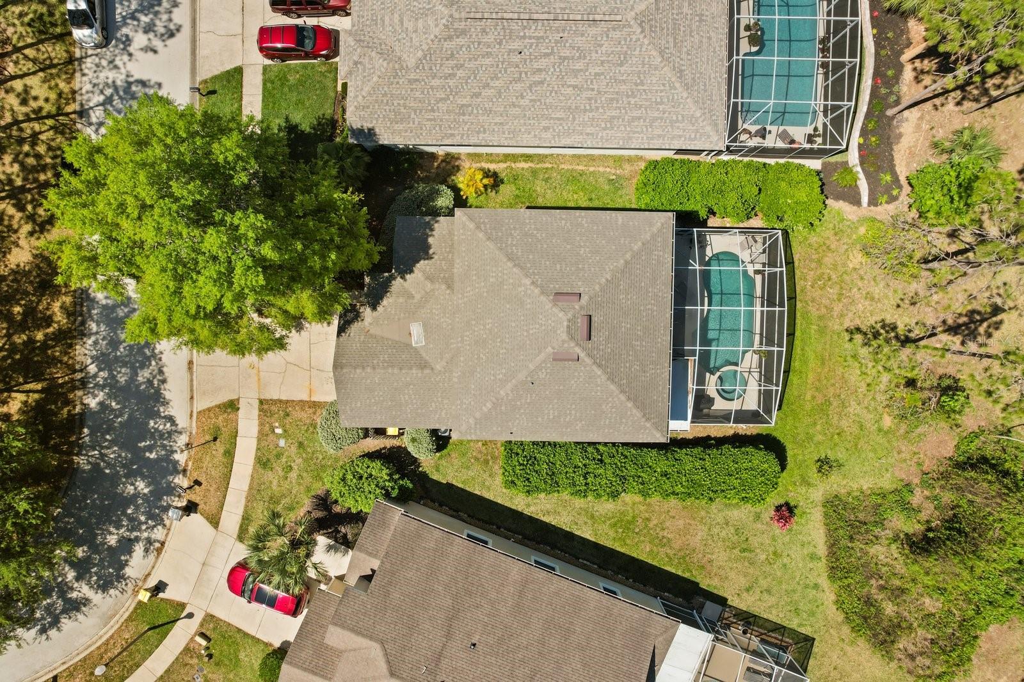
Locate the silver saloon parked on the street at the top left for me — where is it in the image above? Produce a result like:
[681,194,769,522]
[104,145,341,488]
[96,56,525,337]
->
[67,0,111,51]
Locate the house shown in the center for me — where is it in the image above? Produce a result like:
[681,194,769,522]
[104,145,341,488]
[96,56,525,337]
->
[333,207,679,443]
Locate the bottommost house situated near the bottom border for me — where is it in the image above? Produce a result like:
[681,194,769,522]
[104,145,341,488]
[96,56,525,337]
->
[276,497,718,682]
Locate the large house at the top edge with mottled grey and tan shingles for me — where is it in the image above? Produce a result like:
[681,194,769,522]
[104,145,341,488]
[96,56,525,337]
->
[338,0,733,158]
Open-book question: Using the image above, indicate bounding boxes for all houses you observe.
[276,497,718,682]
[338,0,733,158]
[333,207,679,443]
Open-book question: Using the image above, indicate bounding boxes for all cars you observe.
[259,23,336,65]
[67,0,111,51]
[227,560,310,621]
[271,0,352,19]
